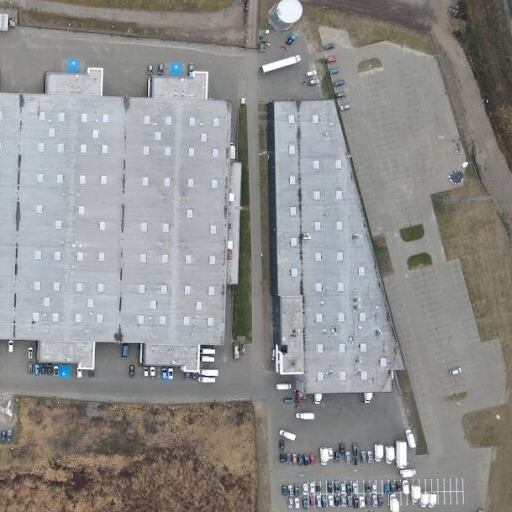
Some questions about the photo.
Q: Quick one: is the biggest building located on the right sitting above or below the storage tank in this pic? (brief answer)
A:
below it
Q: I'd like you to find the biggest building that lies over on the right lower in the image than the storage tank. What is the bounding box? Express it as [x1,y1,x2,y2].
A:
[267,99,405,394]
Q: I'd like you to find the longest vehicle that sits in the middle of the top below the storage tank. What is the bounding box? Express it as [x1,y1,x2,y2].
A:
[258,54,302,74]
